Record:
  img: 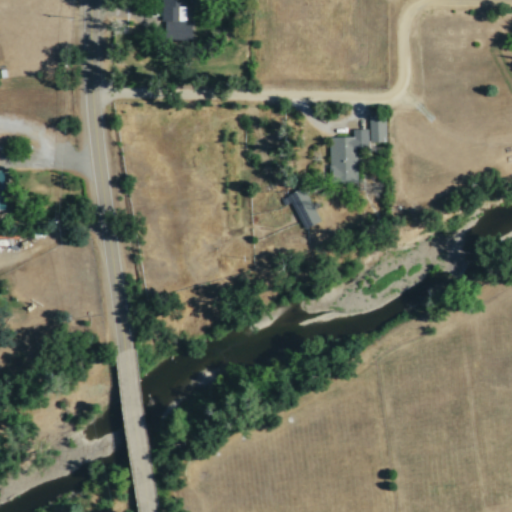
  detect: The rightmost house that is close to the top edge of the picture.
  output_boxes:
[164,0,194,39]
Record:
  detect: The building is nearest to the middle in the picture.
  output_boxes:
[284,188,322,229]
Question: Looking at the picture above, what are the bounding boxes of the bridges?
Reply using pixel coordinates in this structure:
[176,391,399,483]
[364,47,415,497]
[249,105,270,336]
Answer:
[116,350,157,512]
